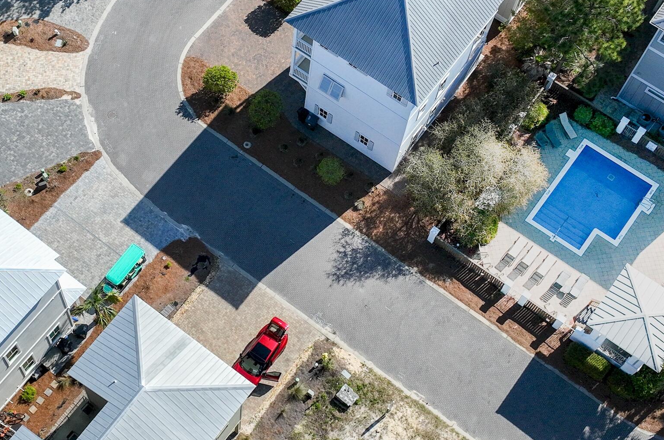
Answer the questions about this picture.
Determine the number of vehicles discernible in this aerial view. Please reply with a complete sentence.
The count of vehicles comes to 2.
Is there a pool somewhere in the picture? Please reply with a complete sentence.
Yes, the picture does show a pool.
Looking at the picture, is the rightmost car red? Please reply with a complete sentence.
Yes, the rightmost car appears red.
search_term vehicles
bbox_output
[102,243,147,300]
[232,313,290,387]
